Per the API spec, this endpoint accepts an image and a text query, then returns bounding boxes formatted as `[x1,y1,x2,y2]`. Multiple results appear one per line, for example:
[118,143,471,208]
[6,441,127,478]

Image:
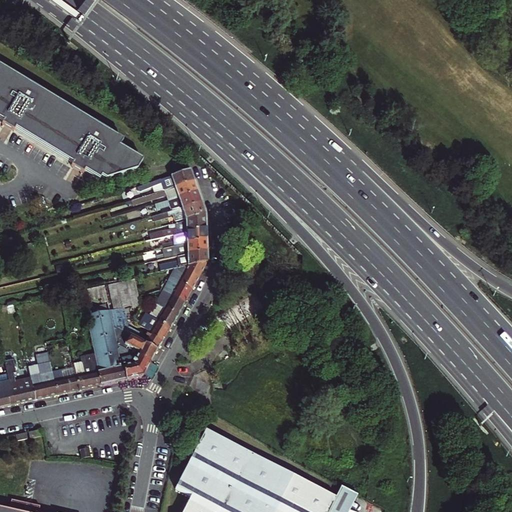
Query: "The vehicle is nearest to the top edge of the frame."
[52,0,86,24]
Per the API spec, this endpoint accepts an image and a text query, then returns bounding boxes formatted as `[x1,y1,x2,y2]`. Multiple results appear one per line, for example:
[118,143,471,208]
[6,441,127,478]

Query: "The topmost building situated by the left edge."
[0,62,144,179]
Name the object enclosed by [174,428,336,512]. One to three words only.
building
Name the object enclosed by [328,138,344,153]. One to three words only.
vehicle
